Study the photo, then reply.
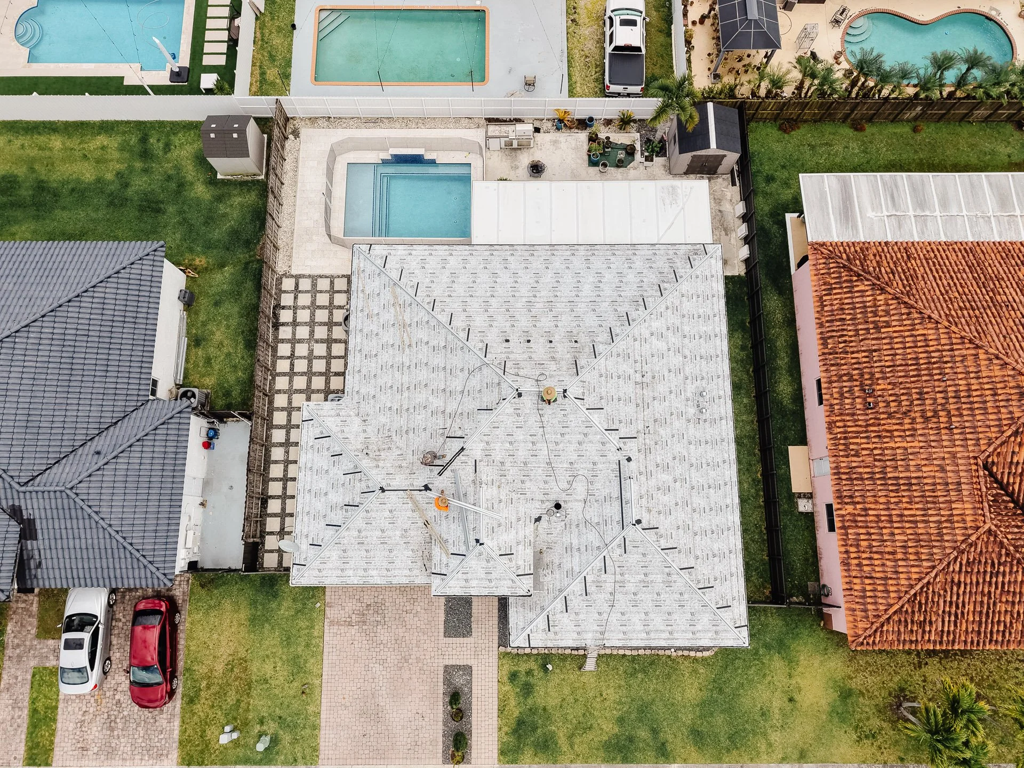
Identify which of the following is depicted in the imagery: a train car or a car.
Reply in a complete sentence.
Looking from above, you can make out a car.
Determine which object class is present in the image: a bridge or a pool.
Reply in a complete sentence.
This aerial view contains a pool.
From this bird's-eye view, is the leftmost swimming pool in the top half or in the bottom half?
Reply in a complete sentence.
The leftmost swimming pool sits in the top half of the picture.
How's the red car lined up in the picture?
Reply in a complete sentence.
From this overhead view, the red car appears to run up and down.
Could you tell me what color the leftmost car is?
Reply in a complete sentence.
The leftmost car is white.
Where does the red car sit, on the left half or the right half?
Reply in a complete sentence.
It is on the left.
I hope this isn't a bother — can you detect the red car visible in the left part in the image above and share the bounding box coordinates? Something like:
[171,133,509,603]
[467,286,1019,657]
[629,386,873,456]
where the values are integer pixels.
[120,598,179,708]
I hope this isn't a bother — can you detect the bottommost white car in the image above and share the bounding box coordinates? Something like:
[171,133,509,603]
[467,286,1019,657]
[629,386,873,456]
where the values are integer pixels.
[51,588,113,695]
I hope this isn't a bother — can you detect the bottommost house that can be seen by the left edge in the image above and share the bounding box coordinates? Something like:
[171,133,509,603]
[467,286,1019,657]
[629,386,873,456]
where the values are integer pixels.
[0,238,196,606]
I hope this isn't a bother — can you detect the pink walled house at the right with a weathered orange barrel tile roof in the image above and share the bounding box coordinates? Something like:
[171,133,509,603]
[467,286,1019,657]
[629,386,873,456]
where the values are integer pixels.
[796,238,1024,652]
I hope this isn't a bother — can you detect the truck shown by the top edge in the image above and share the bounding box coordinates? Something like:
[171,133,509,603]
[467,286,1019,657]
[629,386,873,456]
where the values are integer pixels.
[598,0,649,98]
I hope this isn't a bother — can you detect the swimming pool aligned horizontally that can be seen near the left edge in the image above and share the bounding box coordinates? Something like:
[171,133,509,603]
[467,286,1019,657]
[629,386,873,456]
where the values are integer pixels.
[6,0,191,75]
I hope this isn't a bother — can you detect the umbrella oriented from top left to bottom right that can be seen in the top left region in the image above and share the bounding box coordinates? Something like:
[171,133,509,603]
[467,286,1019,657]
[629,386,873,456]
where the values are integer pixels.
[153,37,189,82]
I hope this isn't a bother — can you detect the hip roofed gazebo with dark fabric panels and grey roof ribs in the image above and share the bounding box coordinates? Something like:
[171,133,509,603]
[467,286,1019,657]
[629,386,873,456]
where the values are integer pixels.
[709,0,781,76]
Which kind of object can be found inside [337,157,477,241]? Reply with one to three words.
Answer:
swimming pool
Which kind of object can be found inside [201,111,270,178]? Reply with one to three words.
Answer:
shed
